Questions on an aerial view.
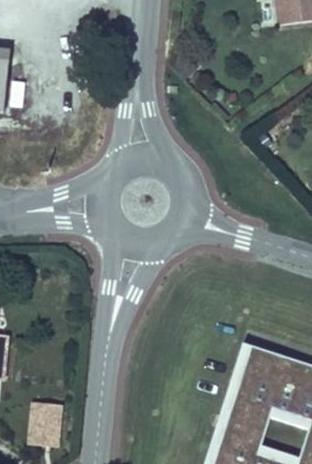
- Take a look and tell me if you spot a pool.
No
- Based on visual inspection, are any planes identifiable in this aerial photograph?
No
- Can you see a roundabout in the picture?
Yes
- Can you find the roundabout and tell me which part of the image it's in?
center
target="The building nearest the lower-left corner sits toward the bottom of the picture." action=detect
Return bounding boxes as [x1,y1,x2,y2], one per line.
[26,402,64,448]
